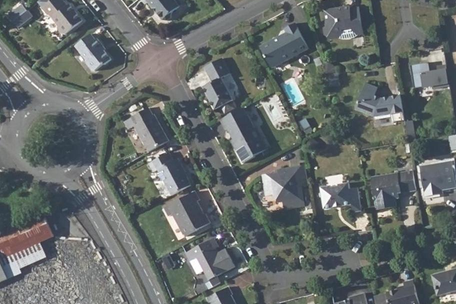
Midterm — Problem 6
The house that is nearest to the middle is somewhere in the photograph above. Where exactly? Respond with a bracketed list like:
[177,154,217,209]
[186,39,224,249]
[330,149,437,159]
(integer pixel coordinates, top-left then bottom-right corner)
[219,105,270,163]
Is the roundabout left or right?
left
